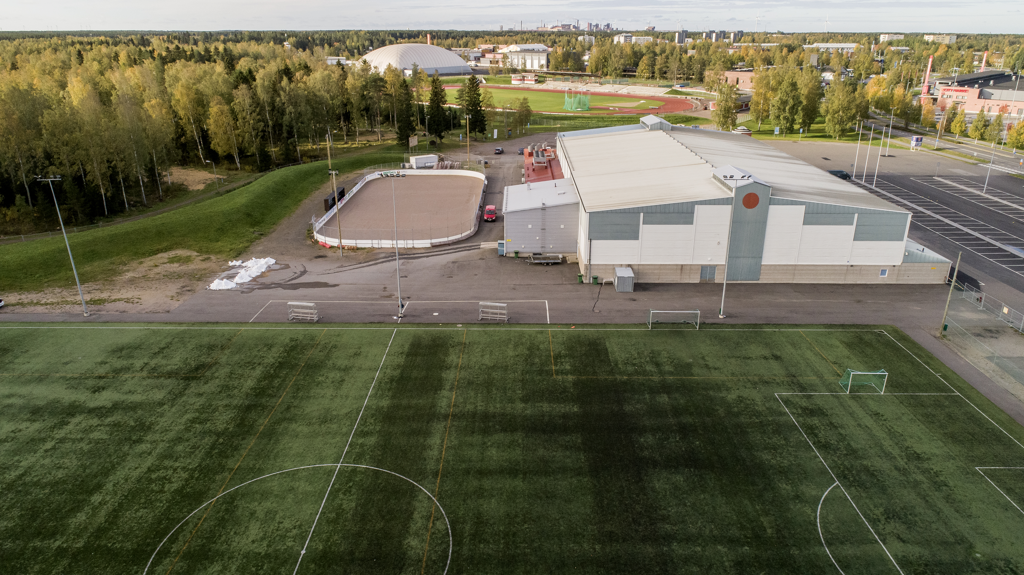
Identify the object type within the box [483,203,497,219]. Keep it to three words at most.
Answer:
vehicle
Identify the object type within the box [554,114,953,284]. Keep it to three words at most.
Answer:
building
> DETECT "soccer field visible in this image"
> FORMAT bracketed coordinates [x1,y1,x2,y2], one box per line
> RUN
[0,324,1024,575]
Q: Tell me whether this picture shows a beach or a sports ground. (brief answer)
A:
sports ground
